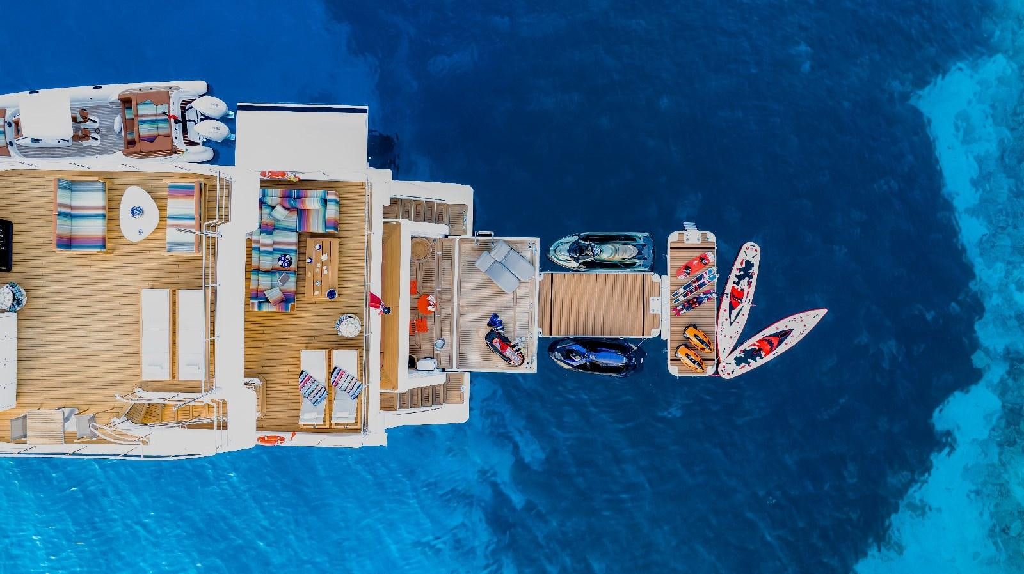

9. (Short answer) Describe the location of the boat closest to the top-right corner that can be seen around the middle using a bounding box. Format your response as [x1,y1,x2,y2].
[546,233,655,270]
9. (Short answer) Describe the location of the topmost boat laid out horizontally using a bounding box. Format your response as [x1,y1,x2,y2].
[0,79,237,163]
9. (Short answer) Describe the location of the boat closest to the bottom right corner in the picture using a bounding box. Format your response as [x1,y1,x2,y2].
[547,337,648,376]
